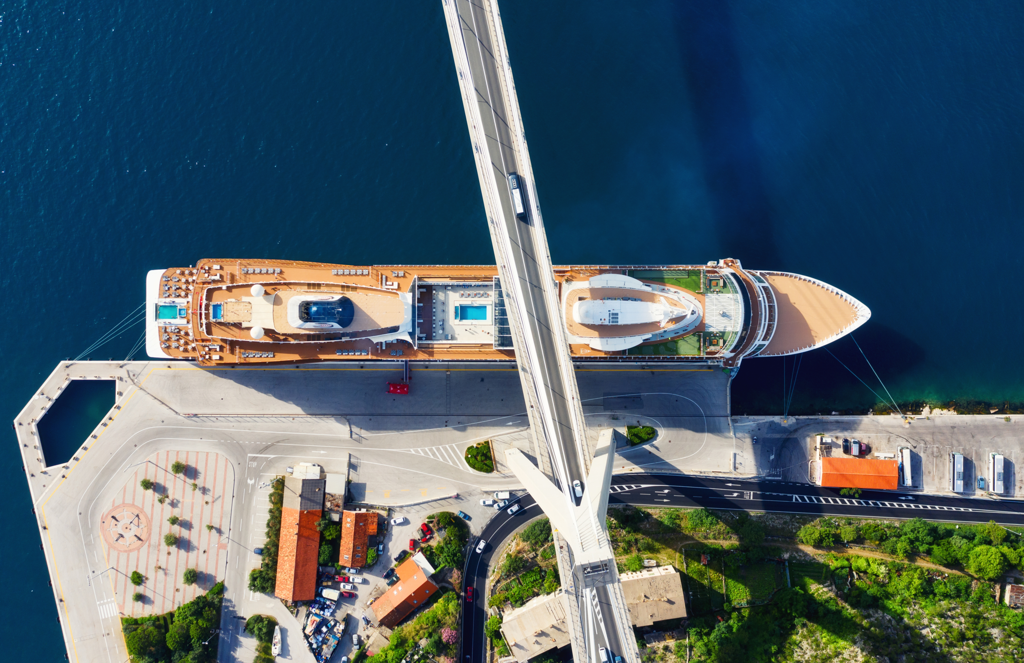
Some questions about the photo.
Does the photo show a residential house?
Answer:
Yes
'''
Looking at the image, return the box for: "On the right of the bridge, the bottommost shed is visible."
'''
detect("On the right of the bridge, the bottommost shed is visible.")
[644,626,685,646]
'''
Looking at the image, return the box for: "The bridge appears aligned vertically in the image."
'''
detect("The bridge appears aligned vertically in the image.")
[442,0,641,663]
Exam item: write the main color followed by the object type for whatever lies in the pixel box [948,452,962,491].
white vehicle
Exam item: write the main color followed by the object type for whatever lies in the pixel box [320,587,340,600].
white vehicle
